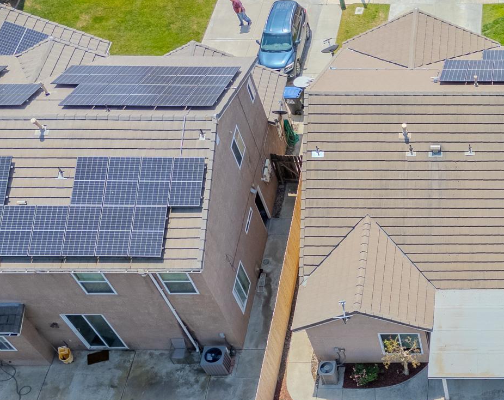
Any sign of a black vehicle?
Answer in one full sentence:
No, I can see no black vehicle in this picture.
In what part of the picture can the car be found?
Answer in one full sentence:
The car appears toward the top of the photo.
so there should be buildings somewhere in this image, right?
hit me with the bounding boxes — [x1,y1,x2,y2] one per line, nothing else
[0,1,294,369]
[290,8,504,400]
